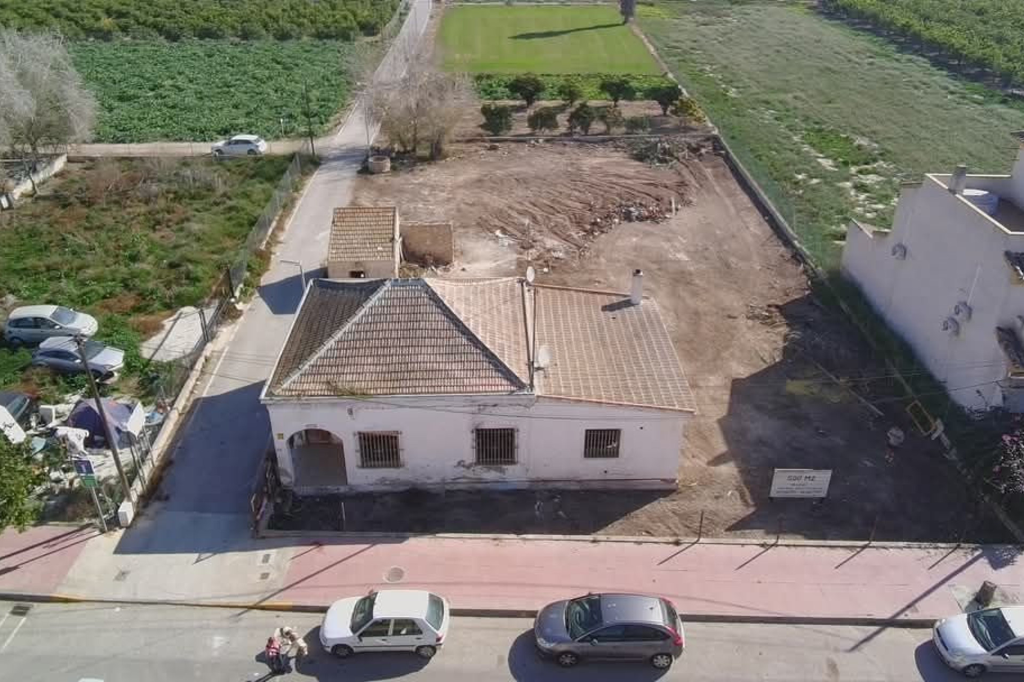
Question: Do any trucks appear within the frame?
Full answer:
No, the scene contains no truck.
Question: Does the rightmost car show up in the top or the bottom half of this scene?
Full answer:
The bottom half of the photo is where the rightmost car is.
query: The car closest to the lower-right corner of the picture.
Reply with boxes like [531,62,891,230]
[920,597,1024,673]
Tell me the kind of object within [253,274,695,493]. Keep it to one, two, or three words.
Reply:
house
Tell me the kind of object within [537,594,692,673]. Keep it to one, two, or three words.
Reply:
car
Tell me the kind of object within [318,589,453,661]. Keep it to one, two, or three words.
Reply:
car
